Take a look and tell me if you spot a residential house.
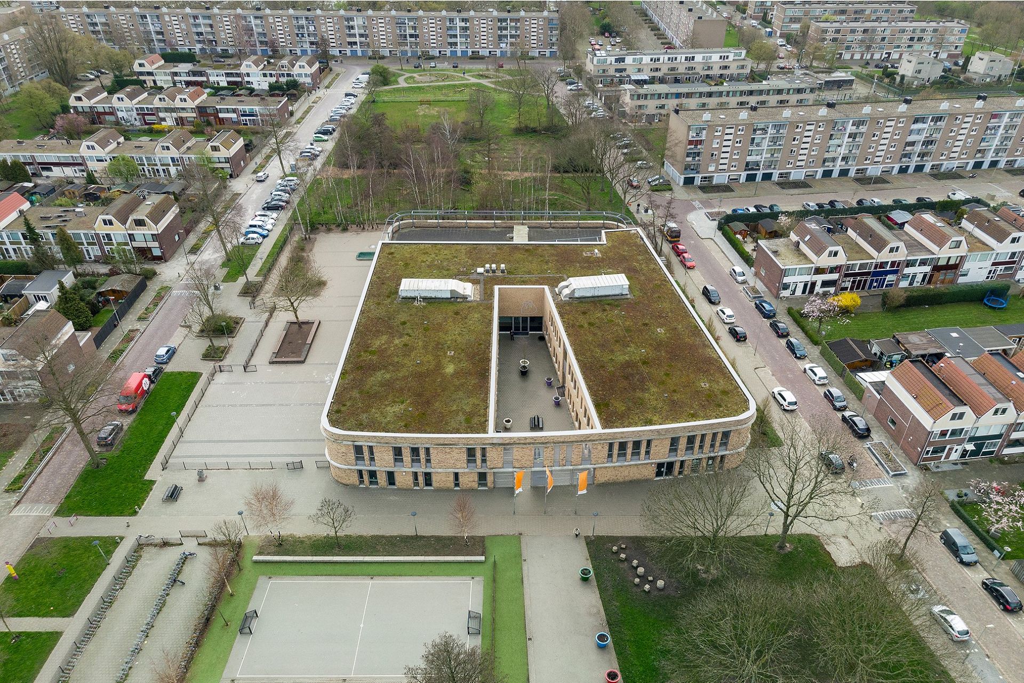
Yes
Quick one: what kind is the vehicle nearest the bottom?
automobile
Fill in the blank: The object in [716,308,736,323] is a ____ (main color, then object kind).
white car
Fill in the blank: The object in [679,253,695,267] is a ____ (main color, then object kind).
red car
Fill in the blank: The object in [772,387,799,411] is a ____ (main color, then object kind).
white car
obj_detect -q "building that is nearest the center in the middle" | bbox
[321,213,757,491]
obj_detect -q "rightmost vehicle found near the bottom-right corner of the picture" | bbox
[978,575,1024,619]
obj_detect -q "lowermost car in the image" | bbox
[926,601,976,649]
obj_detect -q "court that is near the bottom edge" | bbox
[220,578,484,683]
